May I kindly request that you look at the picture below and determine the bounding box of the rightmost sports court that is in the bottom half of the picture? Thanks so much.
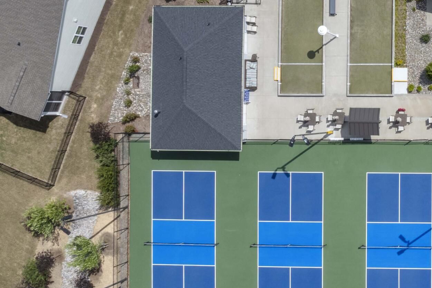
[366,173,432,288]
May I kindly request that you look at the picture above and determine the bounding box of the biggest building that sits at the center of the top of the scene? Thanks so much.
[150,5,247,152]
